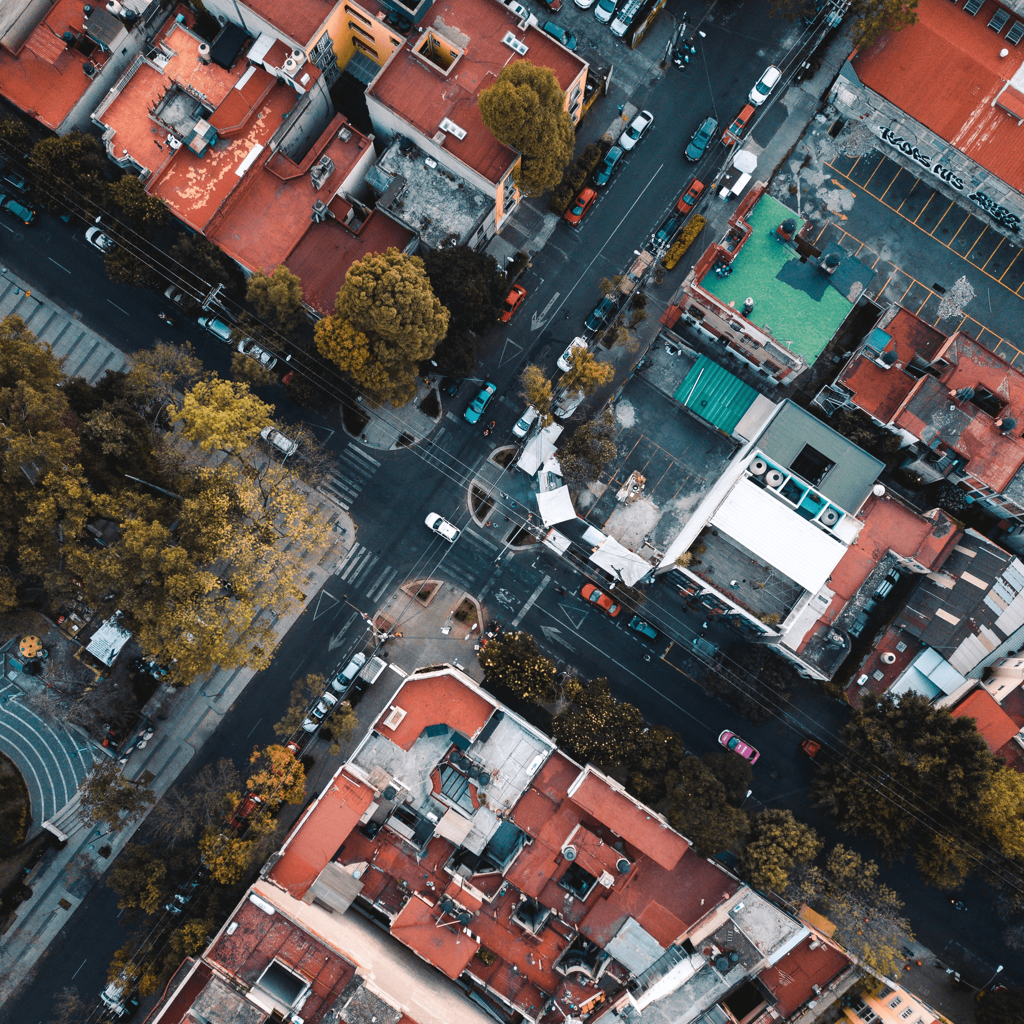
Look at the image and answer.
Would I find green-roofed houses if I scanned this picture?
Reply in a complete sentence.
Yes, a green-roofed house appears in the view.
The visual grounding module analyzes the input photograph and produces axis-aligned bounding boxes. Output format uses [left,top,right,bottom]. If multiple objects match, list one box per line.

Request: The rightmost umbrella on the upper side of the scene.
[728,148,759,178]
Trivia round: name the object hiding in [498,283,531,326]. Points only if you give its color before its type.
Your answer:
red car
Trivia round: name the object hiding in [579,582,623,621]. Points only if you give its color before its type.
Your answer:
red car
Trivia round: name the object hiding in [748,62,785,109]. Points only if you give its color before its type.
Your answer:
white car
